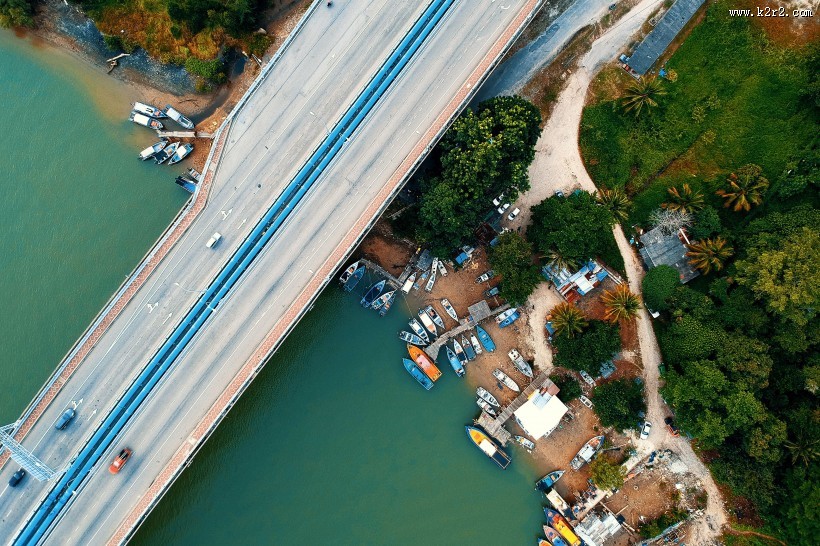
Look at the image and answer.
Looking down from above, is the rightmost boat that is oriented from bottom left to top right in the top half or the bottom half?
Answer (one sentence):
The bottom half of the photo is where the rightmost boat that is oriented from bottom left to top right is.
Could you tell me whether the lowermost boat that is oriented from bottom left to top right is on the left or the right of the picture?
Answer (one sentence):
The lowermost boat that is oriented from bottom left to top right appears in the right half of the scene.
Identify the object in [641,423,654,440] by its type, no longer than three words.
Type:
vehicle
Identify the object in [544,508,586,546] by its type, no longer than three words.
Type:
boat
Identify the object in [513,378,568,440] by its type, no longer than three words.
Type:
building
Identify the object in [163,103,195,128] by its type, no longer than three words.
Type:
boat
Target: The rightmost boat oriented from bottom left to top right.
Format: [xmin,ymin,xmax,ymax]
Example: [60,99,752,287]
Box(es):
[570,436,605,472]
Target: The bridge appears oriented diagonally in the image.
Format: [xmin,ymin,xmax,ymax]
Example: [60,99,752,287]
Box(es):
[0,0,546,546]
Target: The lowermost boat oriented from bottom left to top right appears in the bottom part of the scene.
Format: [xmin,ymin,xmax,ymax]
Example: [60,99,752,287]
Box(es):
[536,470,565,492]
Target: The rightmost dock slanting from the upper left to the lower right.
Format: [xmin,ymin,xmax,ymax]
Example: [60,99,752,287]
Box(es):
[475,410,511,444]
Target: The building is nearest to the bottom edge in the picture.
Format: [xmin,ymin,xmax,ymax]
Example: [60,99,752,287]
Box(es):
[574,510,622,546]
